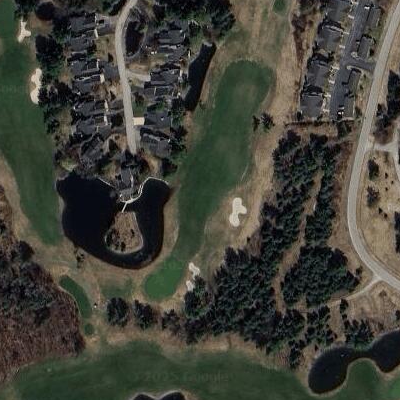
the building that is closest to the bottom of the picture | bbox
[117,157,138,197]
